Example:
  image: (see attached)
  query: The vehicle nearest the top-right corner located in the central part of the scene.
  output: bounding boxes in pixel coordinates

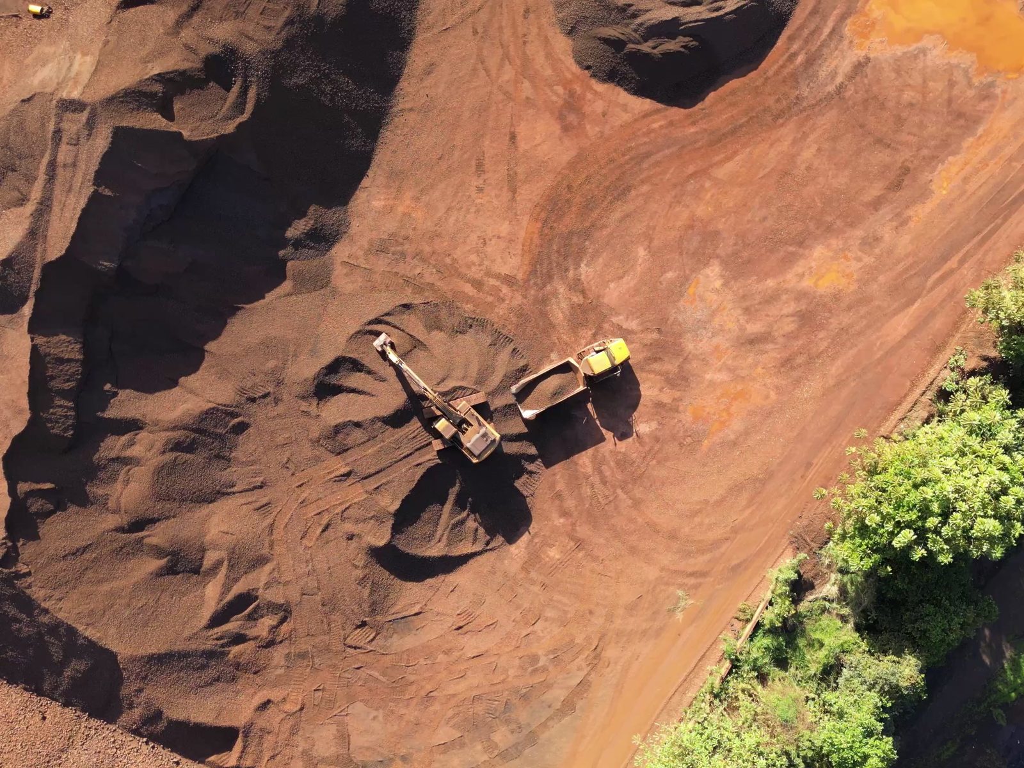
[509,335,635,420]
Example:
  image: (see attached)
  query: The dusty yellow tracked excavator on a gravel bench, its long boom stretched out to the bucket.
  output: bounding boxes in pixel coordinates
[371,333,497,459]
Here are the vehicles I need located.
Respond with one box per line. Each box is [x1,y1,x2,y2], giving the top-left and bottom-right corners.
[371,333,497,459]
[509,335,635,420]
